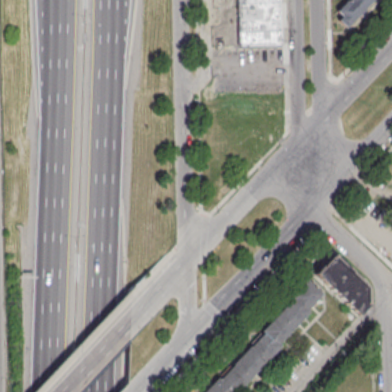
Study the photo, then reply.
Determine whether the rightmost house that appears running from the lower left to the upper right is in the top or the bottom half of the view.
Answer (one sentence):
The rightmost house that appears running from the lower left to the upper right sits in the top half of the picture.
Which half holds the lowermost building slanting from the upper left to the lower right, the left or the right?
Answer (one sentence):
The lowermost building slanting from the upper left to the lower right sits on the right side.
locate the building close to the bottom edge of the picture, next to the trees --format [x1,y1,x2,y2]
[204,280,324,392]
